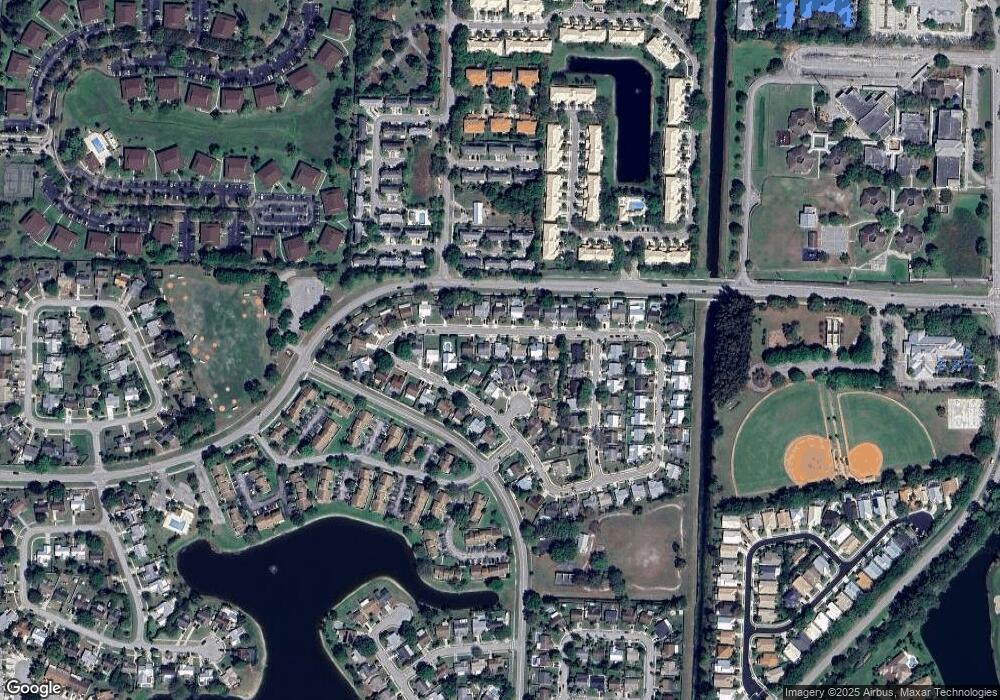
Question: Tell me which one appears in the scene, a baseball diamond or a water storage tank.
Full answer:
There is a baseball diamond in the scene.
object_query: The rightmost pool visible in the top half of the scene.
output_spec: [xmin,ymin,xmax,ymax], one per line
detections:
[628,197,646,217]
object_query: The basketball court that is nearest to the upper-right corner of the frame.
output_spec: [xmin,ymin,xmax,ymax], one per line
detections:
[821,226,847,252]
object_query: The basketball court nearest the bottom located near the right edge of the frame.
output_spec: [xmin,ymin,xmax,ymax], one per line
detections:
[948,399,983,429]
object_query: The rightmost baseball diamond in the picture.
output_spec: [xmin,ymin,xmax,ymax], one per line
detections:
[840,391,937,481]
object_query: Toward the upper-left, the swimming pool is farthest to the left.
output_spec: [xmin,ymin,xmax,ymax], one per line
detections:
[81,130,111,166]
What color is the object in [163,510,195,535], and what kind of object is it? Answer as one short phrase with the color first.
white swimming pool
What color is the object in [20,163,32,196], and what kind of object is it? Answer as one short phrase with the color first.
gray tennis court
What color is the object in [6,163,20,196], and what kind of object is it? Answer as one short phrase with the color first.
gray tennis court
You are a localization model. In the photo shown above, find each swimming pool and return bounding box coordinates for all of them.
[443,341,452,352]
[906,653,918,668]
[163,510,195,535]
[408,209,431,226]
[628,197,646,217]
[81,130,111,166]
